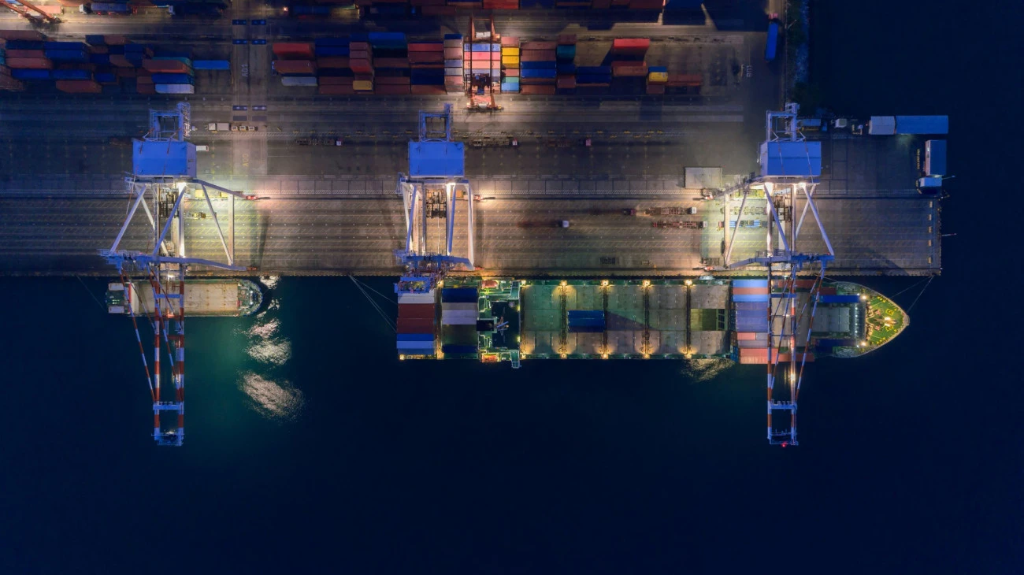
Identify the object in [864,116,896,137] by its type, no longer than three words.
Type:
shed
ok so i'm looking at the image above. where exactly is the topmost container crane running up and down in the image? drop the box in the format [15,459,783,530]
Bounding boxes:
[461,12,504,113]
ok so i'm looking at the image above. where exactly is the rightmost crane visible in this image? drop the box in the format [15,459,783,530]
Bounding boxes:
[703,97,837,446]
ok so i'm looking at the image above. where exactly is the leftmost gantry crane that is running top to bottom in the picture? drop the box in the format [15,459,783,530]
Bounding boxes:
[102,97,258,445]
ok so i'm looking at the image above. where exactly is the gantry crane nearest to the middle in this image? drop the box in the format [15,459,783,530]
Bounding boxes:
[387,97,487,303]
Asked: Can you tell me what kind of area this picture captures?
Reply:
port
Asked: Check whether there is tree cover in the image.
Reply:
No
